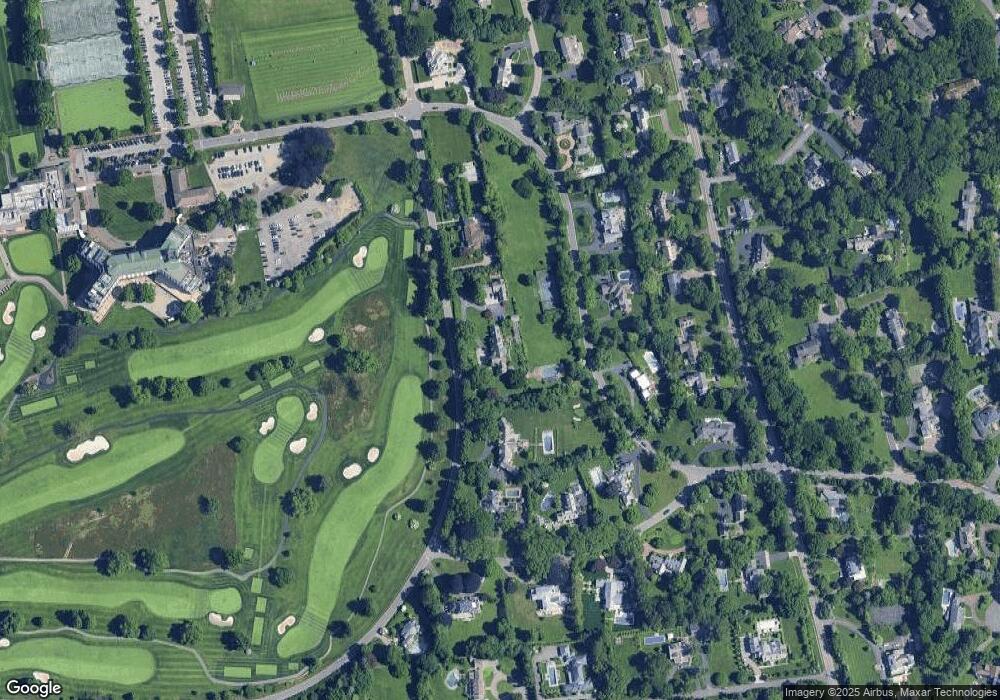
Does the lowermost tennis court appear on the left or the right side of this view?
right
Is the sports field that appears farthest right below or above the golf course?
above it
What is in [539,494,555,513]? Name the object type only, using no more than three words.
swimming pool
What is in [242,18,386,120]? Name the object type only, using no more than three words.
sports field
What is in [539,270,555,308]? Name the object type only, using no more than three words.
tennis court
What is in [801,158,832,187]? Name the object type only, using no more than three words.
house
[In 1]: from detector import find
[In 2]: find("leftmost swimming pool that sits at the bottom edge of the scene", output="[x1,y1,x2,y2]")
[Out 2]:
[445,669,460,689]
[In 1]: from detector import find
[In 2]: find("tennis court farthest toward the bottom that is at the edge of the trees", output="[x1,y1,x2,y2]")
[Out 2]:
[870,604,904,624]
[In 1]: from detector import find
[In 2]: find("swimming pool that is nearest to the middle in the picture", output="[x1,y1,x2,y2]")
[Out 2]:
[541,430,555,454]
